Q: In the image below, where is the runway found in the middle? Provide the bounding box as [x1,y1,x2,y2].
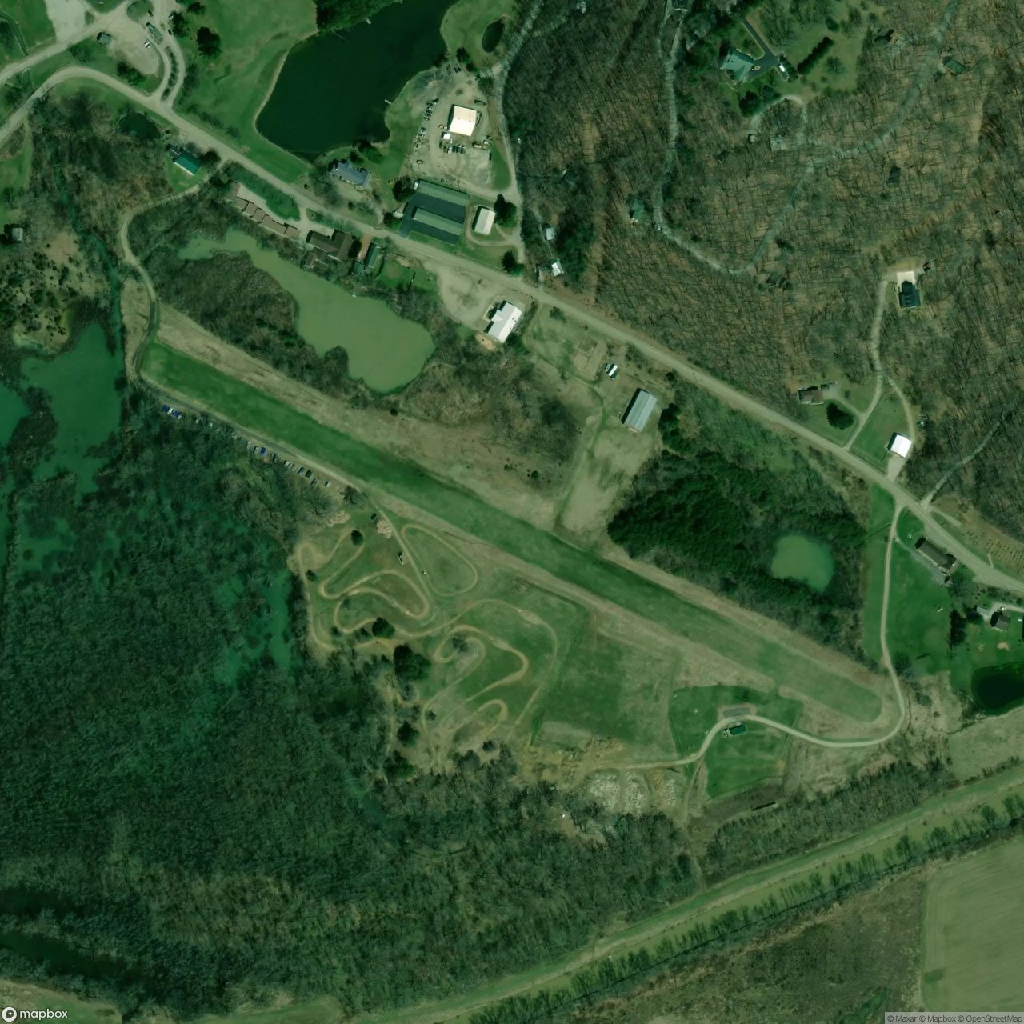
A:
[143,341,882,721]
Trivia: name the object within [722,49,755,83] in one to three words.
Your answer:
house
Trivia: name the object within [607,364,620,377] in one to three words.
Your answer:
vehicle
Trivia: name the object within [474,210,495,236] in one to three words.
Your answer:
barn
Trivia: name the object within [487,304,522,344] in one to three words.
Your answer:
building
